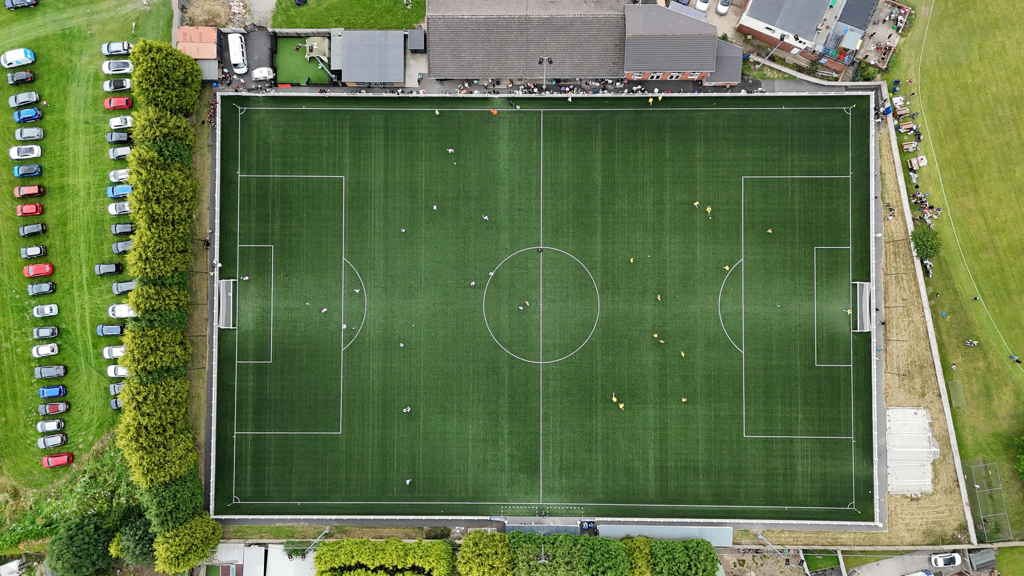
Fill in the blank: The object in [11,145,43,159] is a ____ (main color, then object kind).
white car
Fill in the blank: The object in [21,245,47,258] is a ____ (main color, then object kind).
white vehicle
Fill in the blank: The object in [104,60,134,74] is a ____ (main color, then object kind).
white car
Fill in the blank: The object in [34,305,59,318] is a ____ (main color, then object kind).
white vehicle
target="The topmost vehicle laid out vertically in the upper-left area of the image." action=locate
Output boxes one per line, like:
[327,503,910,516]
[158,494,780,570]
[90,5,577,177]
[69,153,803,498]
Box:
[227,33,250,76]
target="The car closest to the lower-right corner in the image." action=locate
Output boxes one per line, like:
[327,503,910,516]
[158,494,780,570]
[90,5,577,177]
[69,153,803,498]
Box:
[929,553,961,568]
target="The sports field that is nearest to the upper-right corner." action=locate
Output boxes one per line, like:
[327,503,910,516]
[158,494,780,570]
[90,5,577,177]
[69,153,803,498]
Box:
[885,0,1024,544]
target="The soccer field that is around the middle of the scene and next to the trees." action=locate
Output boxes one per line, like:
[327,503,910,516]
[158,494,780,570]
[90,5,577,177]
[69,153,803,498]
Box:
[215,95,875,522]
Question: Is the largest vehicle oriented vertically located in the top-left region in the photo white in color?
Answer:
Yes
